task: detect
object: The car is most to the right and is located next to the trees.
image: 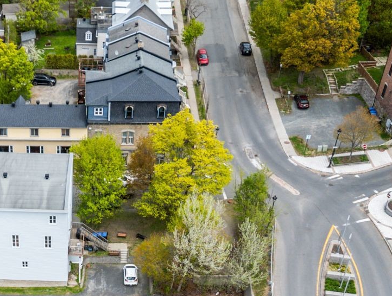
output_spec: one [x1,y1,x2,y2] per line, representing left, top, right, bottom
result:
[295,93,310,107]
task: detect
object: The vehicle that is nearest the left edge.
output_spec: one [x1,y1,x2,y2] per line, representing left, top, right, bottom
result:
[32,73,57,86]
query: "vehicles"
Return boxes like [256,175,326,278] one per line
[240,40,253,53]
[295,93,310,107]
[197,49,210,62]
[32,73,57,86]
[121,261,139,287]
